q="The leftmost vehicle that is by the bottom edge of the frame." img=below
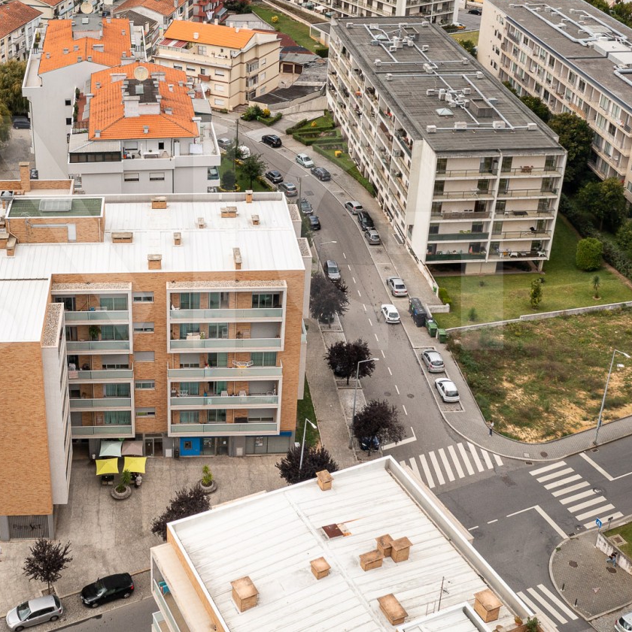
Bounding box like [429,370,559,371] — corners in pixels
[2,594,67,632]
